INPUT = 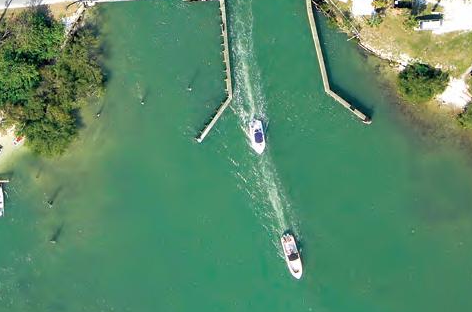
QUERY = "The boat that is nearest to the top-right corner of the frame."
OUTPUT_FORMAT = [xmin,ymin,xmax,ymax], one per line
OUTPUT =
[248,119,265,154]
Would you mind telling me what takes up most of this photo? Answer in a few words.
water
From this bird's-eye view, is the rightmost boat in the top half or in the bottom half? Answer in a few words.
bottom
